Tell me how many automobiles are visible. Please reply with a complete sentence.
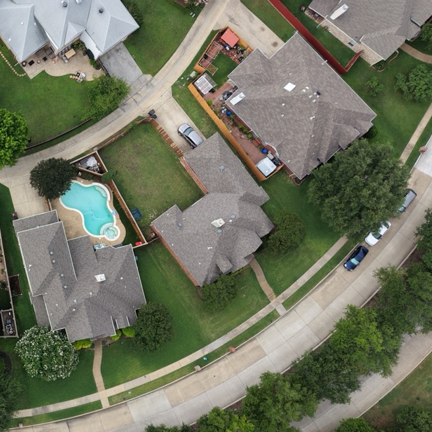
The number of automobiles here is 4.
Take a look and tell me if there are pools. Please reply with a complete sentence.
Yes, the picture does show a pool.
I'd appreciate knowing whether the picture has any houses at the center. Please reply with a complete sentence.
Yes, looking at the center, one can make out a house.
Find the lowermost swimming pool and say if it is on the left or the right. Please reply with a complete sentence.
The lowermost swimming pool appears in the left half of the scene.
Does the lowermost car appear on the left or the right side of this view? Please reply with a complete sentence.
The lowermost car appears in the right half of the scene.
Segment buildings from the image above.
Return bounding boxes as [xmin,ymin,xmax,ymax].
[317,0,432,67]
[222,32,379,180]
[0,0,139,67]
[11,209,146,345]
[148,132,273,286]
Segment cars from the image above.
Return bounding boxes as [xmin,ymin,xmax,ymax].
[364,218,393,246]
[177,121,202,150]
[391,187,419,218]
[341,245,369,272]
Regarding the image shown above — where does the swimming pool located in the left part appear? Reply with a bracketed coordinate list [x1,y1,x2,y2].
[60,180,119,242]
